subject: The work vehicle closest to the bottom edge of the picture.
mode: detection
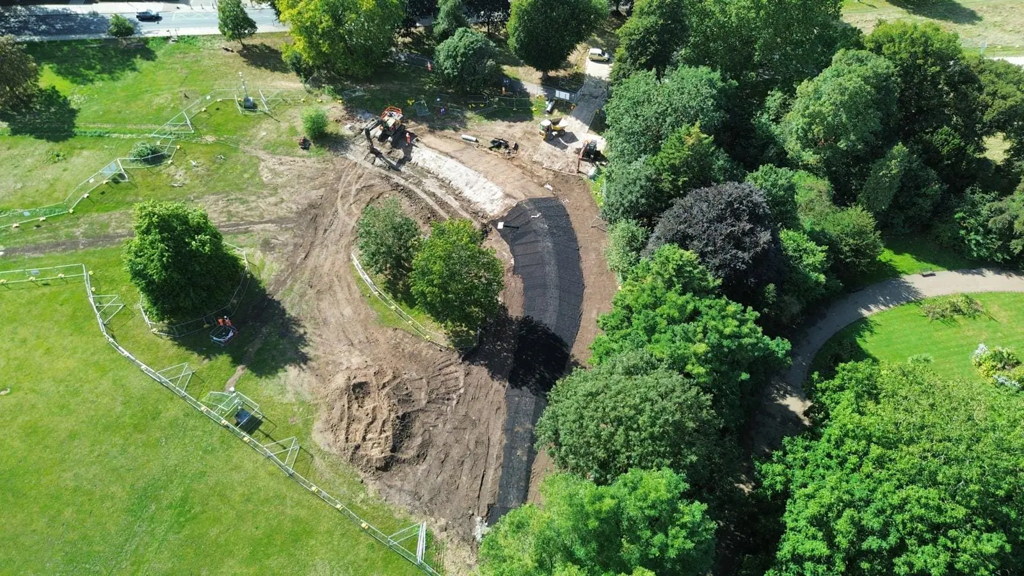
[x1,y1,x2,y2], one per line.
[581,147,603,167]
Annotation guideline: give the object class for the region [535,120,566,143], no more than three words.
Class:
truck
